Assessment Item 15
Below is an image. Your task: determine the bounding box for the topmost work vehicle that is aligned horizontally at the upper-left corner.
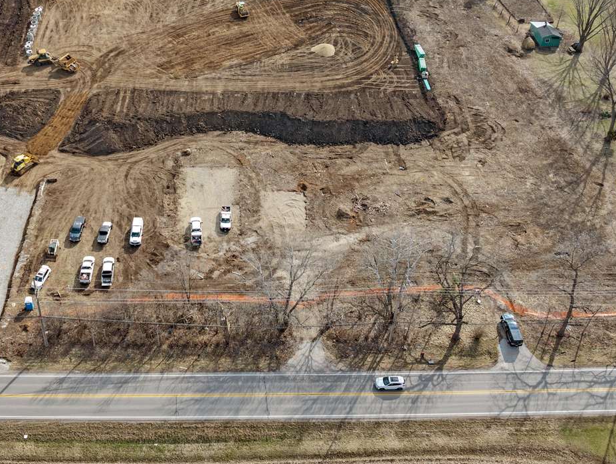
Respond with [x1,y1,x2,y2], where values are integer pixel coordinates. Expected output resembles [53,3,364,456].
[25,46,82,73]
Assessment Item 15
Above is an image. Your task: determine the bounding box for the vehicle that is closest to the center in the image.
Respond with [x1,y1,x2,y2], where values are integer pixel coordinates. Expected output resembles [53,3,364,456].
[218,204,232,231]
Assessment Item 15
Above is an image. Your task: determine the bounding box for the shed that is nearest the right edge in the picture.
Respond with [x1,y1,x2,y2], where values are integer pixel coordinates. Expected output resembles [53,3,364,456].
[534,16,563,48]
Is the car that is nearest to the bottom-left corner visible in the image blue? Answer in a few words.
No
